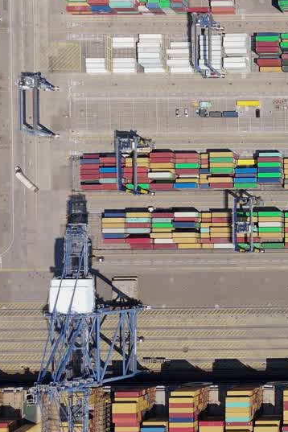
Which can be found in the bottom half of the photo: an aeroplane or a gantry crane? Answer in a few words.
gantry crane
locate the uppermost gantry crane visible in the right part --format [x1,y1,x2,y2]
[191,13,227,82]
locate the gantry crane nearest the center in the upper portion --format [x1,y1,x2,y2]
[115,135,158,195]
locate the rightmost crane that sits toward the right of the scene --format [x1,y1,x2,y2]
[232,194,268,252]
